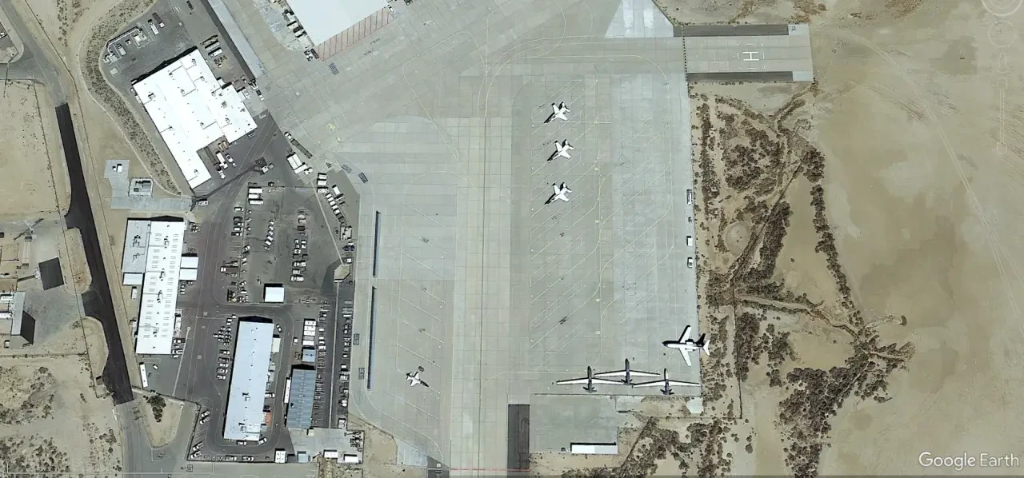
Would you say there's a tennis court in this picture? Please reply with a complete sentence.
No, I find no tennis court anywhere in the image.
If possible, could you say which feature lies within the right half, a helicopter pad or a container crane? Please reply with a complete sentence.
The one visible within the right half is a helicopter pad.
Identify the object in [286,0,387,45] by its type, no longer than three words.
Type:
hangar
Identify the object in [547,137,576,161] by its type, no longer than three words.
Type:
airplane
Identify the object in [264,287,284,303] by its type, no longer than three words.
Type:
building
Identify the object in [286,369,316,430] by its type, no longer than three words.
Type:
building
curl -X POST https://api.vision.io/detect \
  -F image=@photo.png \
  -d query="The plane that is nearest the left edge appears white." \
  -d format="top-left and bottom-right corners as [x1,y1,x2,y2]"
[406,373,428,387]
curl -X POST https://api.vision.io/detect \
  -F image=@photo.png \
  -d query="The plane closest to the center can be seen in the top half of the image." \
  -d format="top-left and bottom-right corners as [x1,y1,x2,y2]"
[545,179,574,203]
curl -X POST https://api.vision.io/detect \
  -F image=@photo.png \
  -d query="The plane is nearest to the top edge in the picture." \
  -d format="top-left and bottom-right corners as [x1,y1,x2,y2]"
[545,98,573,122]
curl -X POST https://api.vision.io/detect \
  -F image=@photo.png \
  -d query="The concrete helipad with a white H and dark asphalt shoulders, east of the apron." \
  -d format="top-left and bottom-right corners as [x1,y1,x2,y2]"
[674,23,814,82]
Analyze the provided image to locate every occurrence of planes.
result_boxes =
[556,367,623,392]
[594,359,661,384]
[664,328,713,368]
[545,98,573,122]
[406,373,428,387]
[547,137,576,161]
[633,369,700,394]
[545,179,574,203]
